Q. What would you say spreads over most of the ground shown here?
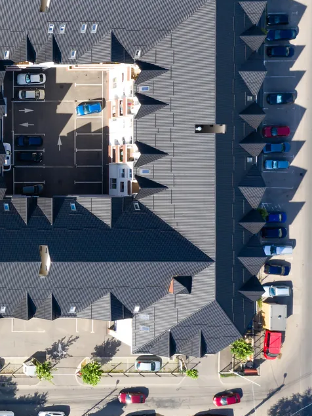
buildings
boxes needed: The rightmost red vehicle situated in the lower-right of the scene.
[265,329,281,360]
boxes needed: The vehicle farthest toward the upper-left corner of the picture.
[16,73,45,85]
